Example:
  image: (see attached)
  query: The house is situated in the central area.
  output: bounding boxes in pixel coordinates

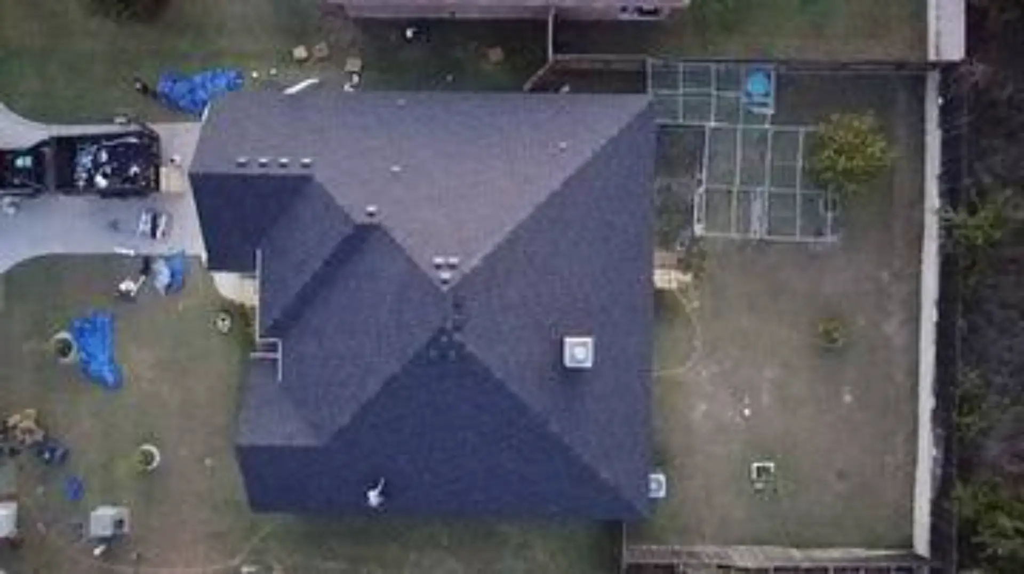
[189,88,654,520]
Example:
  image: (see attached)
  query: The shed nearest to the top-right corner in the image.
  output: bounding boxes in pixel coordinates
[921,0,967,68]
